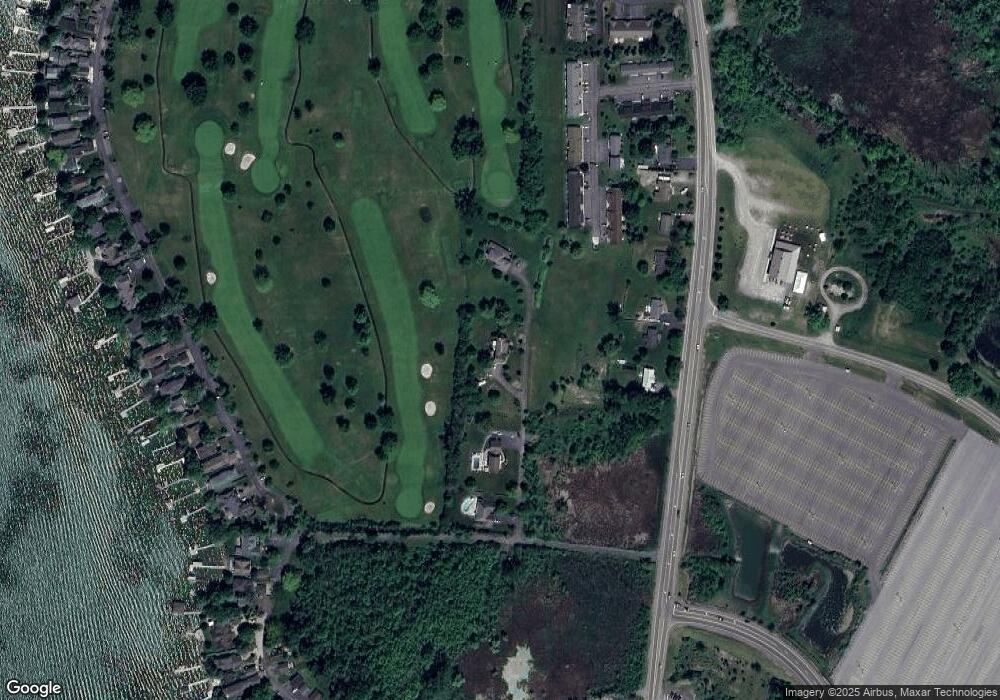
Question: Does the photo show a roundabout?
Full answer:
Yes, the image includes a roundabout.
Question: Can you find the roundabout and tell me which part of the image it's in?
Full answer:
The roundabout sits in the right section of the image.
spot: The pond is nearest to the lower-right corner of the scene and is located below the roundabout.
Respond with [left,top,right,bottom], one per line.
[782,544,848,647]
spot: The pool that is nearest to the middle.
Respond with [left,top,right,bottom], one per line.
[472,452,486,471]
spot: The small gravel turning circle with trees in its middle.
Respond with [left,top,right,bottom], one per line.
[819,267,867,344]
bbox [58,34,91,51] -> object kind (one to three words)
house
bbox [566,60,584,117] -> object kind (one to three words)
building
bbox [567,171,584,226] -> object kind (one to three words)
building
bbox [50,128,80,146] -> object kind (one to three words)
house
